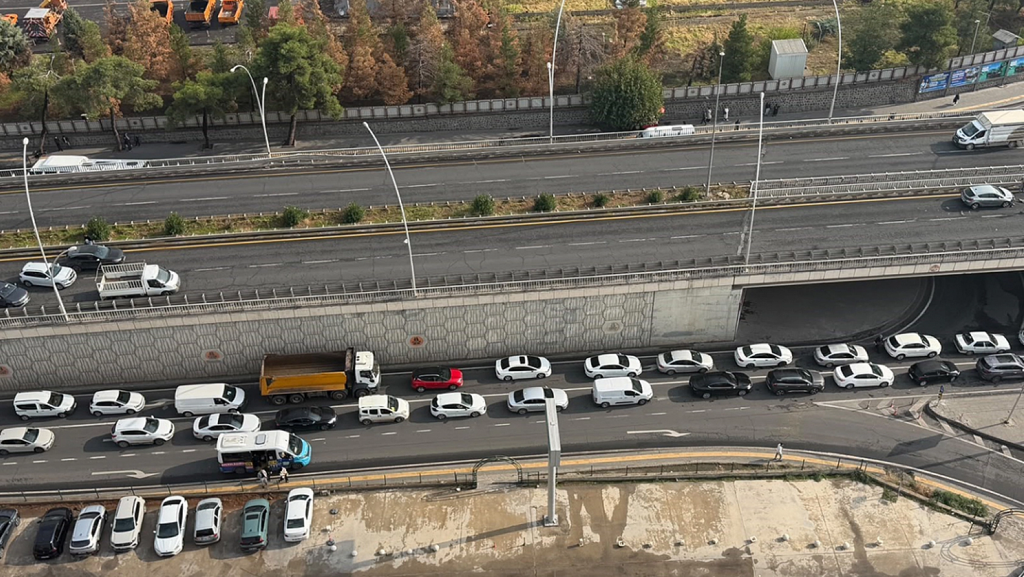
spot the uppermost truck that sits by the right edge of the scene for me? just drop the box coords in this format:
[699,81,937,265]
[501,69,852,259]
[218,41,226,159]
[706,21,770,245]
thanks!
[956,106,1024,151]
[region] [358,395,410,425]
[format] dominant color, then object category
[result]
white van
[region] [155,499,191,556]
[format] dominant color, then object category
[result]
white car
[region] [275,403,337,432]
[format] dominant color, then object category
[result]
black car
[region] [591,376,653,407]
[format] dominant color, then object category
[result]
white van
